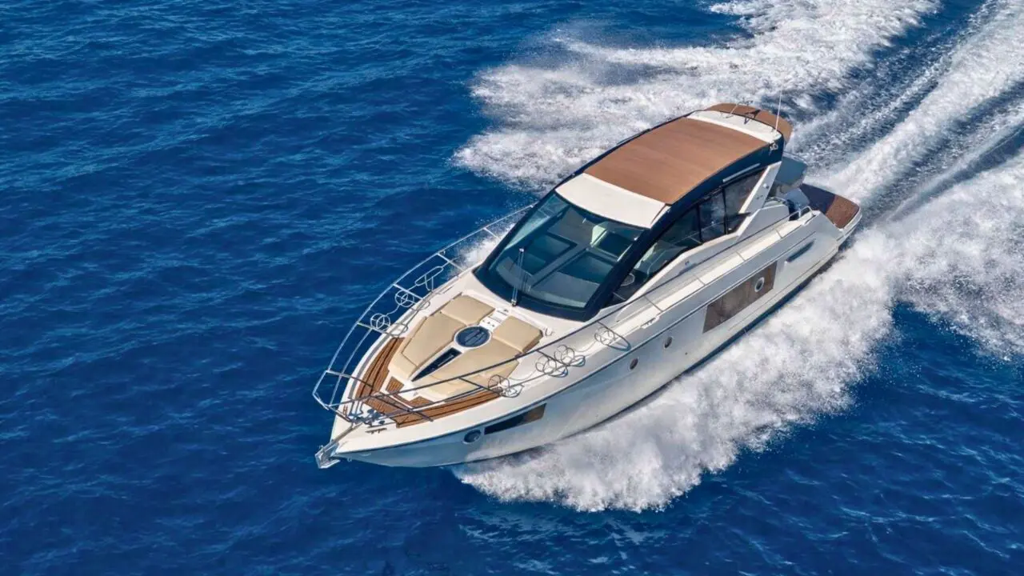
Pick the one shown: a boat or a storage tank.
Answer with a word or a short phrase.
boat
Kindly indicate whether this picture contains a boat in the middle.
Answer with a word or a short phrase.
Yes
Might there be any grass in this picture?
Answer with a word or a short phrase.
No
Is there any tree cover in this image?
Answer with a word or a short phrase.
No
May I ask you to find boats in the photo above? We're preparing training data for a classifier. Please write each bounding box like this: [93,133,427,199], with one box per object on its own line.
[304,75,865,470]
